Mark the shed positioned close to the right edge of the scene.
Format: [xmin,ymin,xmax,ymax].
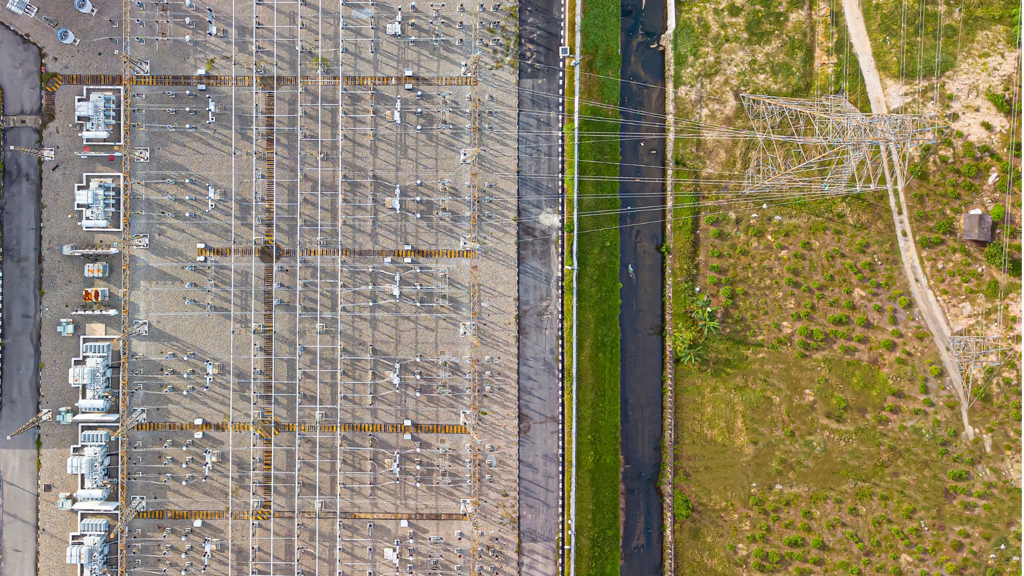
[954,214,990,241]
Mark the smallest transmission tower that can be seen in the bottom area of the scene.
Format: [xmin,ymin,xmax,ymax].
[948,333,1014,408]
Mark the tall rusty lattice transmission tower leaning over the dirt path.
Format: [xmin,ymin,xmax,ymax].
[737,91,956,193]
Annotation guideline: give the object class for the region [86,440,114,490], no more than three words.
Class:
storage tank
